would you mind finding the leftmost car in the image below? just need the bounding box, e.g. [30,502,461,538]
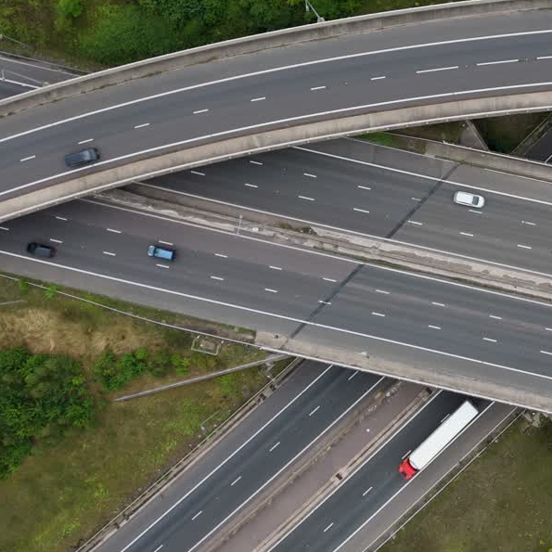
[28,242,56,257]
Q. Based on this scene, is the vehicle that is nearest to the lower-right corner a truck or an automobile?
truck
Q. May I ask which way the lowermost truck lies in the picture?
diagonally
